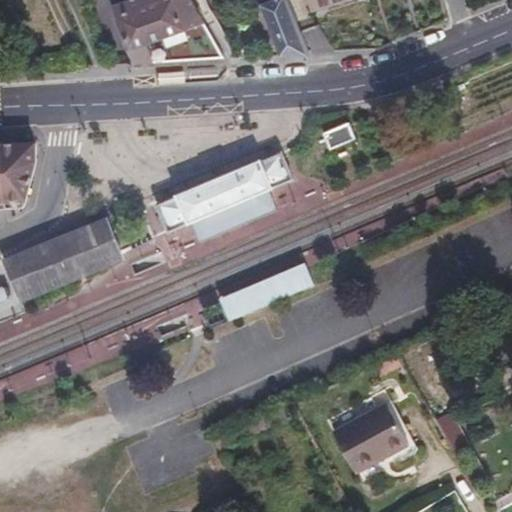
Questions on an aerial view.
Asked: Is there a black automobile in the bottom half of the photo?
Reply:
No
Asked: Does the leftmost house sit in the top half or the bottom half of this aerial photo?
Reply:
top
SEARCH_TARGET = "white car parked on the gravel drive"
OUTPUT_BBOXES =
[457,480,474,502]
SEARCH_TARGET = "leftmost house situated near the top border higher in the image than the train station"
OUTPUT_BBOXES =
[114,0,224,66]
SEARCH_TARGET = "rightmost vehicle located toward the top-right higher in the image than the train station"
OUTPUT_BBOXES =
[422,30,446,46]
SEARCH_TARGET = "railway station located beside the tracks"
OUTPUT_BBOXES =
[0,114,512,402]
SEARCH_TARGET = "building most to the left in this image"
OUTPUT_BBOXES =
[0,142,40,214]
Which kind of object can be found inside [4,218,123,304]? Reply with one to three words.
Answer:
building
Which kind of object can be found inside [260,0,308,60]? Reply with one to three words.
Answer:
house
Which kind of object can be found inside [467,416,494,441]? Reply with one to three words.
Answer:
shed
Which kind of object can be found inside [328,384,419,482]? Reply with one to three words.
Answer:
house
